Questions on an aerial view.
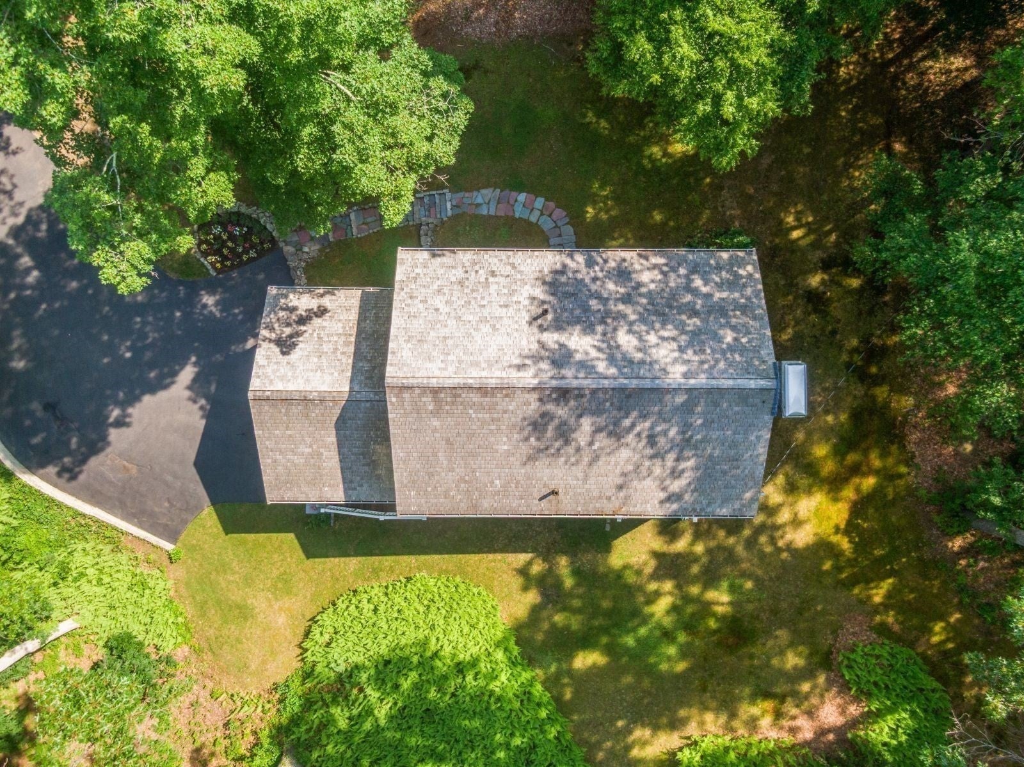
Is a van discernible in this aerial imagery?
No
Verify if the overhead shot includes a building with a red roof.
No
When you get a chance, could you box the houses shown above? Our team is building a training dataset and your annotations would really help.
[247,247,807,520]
